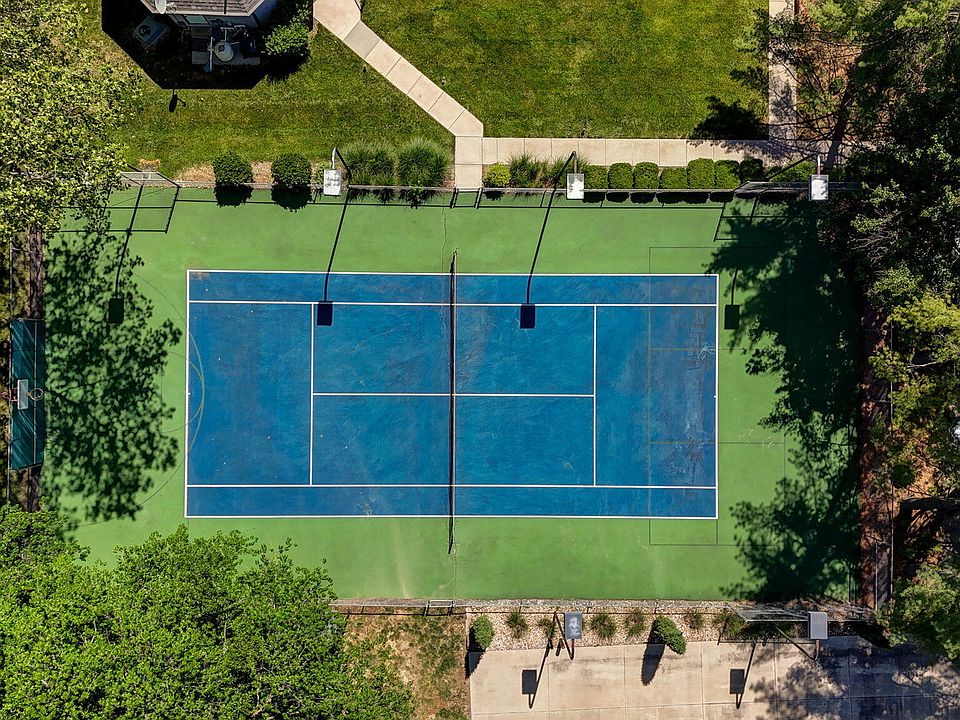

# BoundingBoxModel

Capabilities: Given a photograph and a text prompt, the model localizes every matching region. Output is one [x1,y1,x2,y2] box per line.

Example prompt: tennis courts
[40,189,862,602]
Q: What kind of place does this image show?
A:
sports ground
